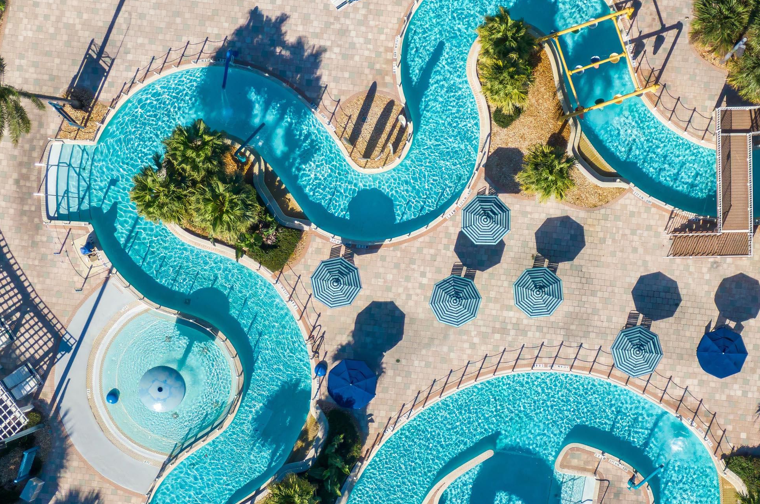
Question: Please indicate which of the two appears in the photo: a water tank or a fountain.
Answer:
fountain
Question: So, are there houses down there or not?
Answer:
No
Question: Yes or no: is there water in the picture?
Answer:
Yes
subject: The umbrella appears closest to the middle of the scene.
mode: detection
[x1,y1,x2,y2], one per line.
[308,255,361,308]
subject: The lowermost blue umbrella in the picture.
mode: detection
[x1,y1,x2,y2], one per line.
[326,358,378,409]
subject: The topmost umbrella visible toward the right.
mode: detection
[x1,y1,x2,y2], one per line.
[458,193,512,246]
